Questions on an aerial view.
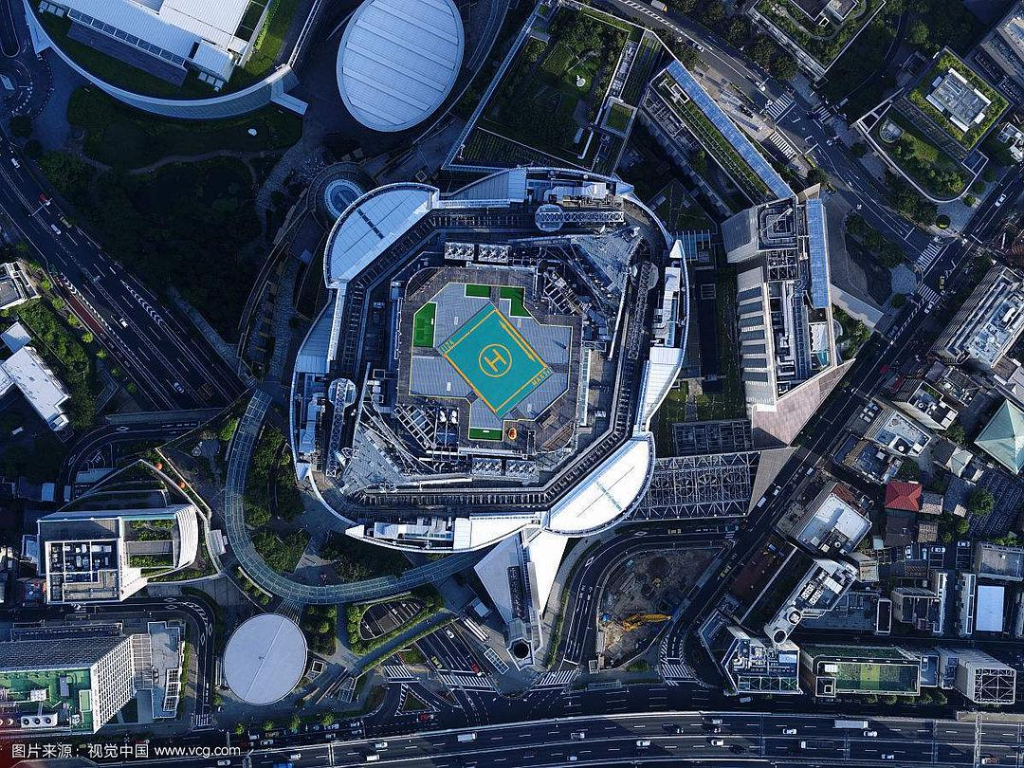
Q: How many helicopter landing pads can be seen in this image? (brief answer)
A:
1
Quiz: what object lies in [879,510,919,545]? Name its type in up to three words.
building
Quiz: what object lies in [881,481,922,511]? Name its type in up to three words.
house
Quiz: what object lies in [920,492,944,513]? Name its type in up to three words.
house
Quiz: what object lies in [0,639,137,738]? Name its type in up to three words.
building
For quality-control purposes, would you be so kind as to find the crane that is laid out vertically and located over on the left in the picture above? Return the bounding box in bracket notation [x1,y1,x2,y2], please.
[324,377,360,476]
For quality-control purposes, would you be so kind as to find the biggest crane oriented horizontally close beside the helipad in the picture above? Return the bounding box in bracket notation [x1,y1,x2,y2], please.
[533,201,625,234]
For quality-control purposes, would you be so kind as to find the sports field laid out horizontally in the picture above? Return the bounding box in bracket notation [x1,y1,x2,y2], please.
[837,666,901,691]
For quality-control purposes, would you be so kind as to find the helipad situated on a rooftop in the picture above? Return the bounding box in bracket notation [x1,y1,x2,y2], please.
[398,267,582,456]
